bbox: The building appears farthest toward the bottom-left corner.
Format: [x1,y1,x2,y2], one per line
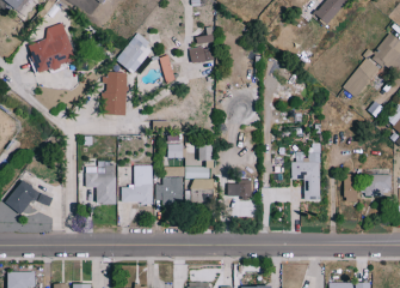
[7,271,36,288]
